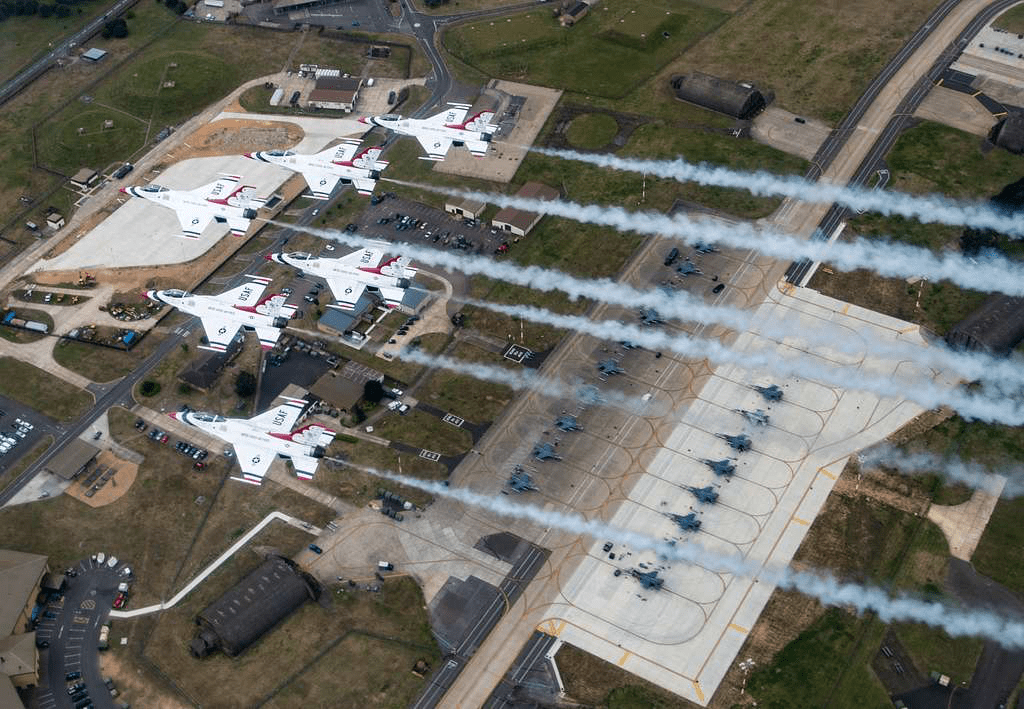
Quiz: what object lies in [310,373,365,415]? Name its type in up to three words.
building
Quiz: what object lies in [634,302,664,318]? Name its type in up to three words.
airplane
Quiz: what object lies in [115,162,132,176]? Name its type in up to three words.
vehicle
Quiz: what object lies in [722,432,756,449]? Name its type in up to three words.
airplane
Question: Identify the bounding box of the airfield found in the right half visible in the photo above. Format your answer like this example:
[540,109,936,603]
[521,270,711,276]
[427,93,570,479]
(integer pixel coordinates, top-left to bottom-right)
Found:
[291,0,1024,709]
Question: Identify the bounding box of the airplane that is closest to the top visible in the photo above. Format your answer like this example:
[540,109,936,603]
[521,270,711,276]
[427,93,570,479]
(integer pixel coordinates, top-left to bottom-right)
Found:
[354,103,498,160]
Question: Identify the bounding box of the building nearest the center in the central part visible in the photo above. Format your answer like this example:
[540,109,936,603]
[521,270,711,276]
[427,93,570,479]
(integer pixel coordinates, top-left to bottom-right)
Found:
[399,283,433,312]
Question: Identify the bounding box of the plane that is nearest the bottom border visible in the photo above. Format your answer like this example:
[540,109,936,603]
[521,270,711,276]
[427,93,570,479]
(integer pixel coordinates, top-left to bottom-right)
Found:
[632,569,668,589]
